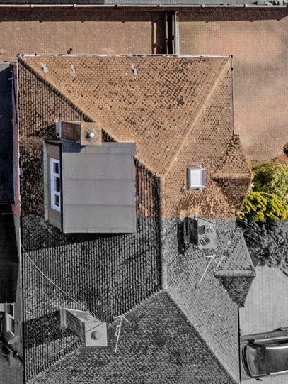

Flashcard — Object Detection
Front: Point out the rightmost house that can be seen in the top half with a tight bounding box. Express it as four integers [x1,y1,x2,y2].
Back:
[15,53,256,234]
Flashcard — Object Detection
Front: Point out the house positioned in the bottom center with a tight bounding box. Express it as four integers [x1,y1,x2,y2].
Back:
[4,203,259,384]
